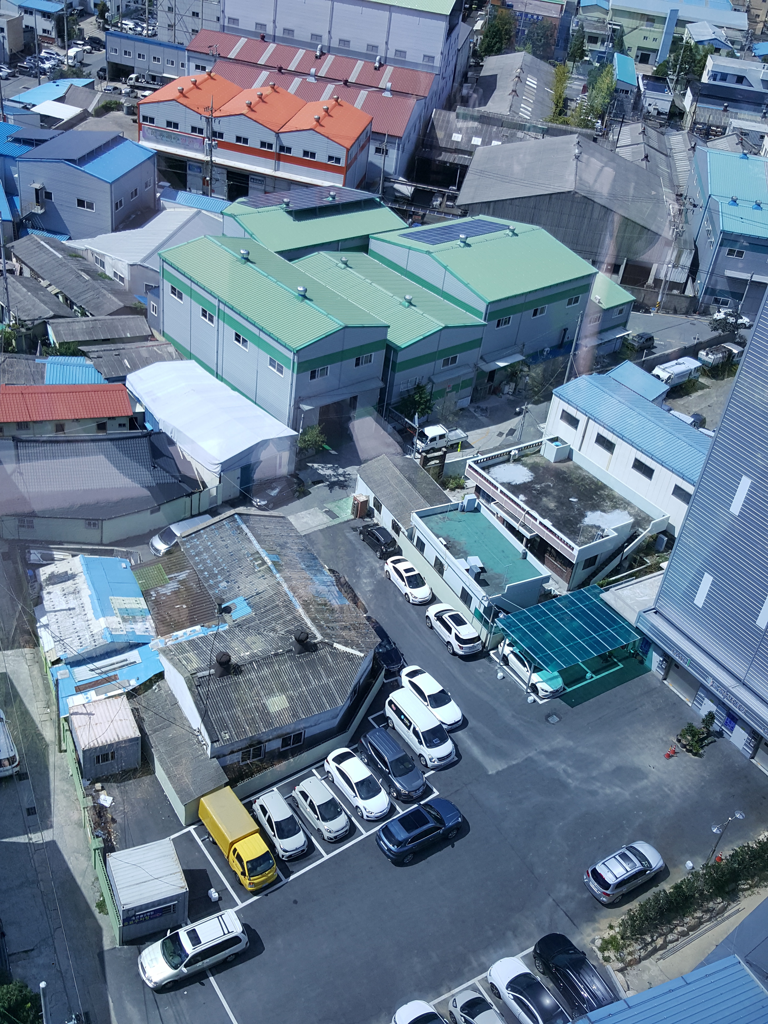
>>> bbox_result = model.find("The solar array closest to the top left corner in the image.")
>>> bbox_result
[227,185,382,217]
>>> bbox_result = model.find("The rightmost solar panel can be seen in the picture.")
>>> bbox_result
[399,219,508,245]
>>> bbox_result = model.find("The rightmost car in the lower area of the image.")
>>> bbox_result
[580,842,669,906]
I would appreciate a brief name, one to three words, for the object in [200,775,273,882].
truck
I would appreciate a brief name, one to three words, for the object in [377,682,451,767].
van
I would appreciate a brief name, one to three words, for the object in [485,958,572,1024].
car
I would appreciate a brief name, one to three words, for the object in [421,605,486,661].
car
